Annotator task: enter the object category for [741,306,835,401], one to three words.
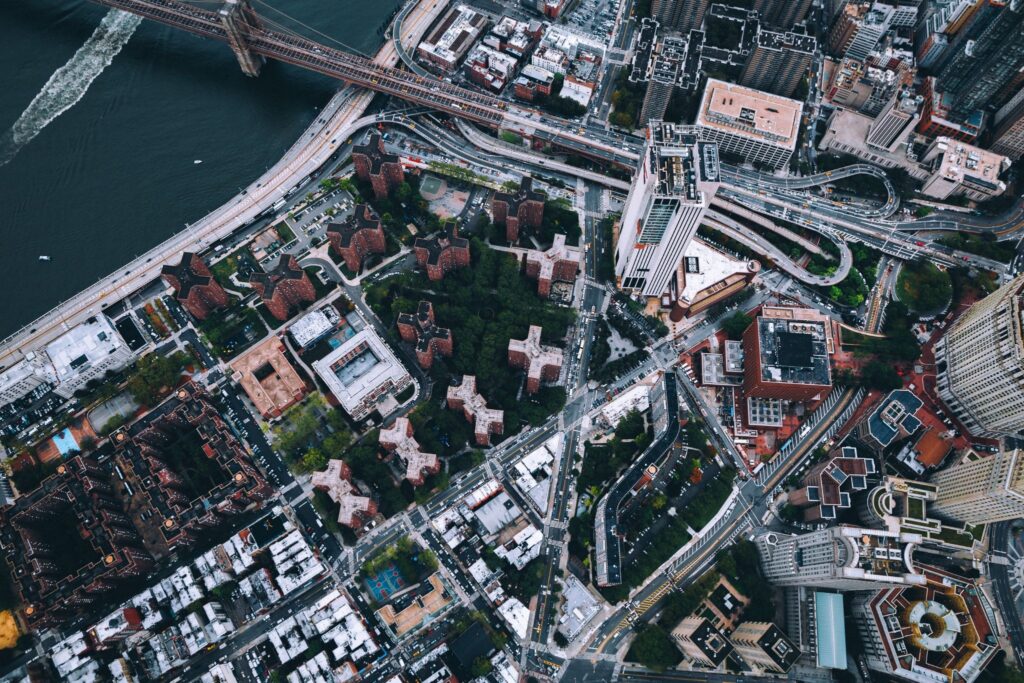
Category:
building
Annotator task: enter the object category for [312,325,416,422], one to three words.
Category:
building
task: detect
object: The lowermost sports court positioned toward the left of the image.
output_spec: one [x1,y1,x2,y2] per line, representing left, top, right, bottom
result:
[366,559,407,602]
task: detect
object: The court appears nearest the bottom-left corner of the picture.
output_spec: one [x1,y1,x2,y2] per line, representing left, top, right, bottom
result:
[52,427,80,458]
